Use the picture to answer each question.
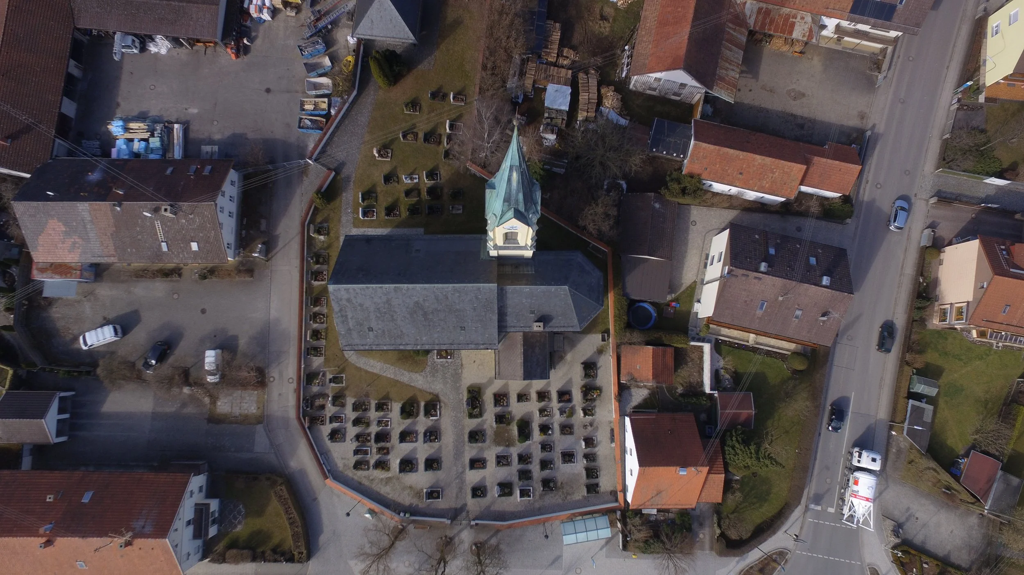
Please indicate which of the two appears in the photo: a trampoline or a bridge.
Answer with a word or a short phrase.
trampoline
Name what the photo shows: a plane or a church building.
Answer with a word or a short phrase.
church building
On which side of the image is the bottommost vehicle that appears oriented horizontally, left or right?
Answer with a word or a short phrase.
left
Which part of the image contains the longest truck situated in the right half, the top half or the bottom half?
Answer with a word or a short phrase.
bottom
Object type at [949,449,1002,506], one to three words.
shed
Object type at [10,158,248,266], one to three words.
house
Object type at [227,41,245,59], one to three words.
work vehicle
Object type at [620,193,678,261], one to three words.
building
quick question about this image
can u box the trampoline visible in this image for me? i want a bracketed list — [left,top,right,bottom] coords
[629,302,659,330]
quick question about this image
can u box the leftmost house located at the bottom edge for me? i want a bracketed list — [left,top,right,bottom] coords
[0,465,241,575]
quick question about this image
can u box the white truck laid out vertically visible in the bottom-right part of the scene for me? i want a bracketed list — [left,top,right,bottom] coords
[839,448,880,538]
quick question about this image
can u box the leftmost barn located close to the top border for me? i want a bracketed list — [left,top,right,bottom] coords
[0,0,90,181]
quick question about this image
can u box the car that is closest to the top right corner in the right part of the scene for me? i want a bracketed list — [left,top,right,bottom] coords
[888,199,909,231]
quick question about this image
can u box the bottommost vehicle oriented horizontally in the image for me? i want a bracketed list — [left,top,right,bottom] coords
[81,326,124,350]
